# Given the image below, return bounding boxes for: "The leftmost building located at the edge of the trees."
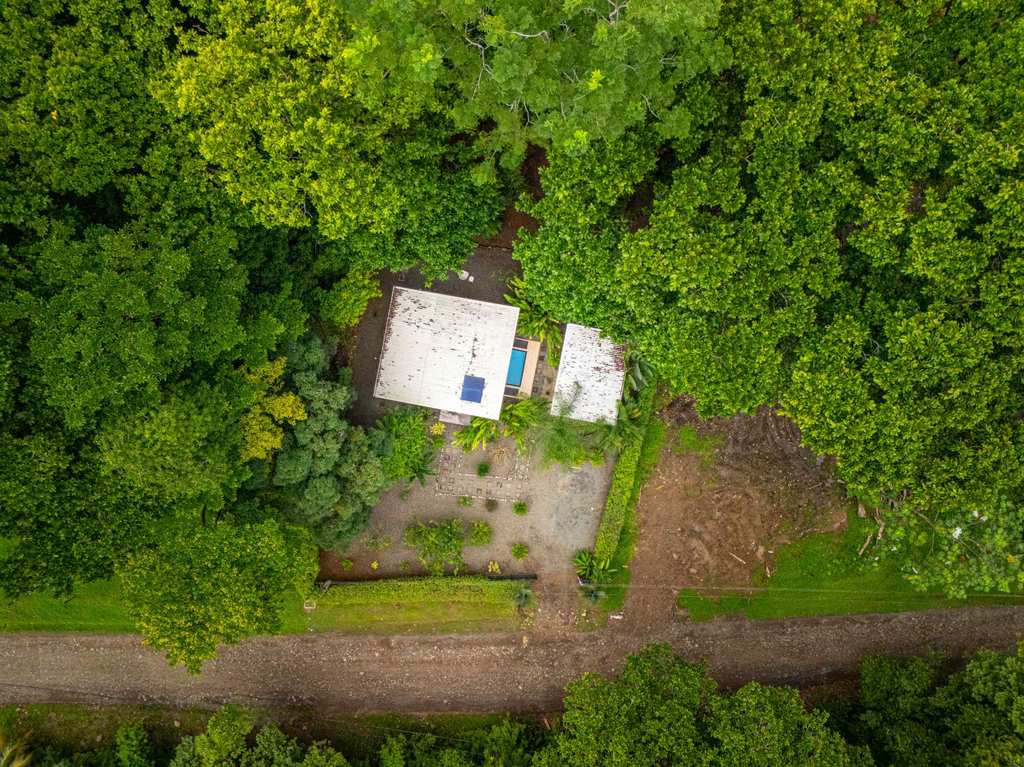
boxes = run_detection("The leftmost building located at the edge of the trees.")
[372,286,520,421]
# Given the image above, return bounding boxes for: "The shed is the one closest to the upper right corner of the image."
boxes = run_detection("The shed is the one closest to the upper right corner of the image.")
[551,324,634,426]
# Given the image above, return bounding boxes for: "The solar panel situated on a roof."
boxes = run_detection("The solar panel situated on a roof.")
[460,374,485,403]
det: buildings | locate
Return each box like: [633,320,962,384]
[551,324,634,426]
[372,286,520,421]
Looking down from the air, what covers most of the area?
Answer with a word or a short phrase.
trees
